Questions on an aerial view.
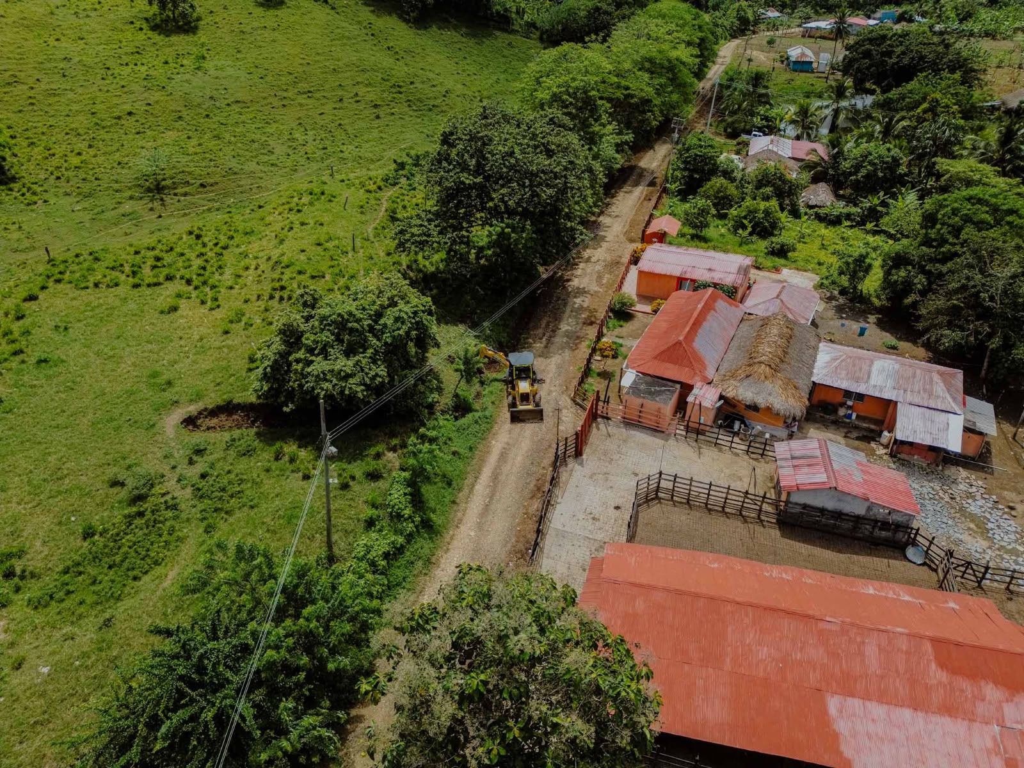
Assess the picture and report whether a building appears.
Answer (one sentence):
Yes, a building appears in the view.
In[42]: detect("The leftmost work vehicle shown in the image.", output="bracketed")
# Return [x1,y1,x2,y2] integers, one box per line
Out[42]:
[475,344,548,419]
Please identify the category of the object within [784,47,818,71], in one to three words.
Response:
house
